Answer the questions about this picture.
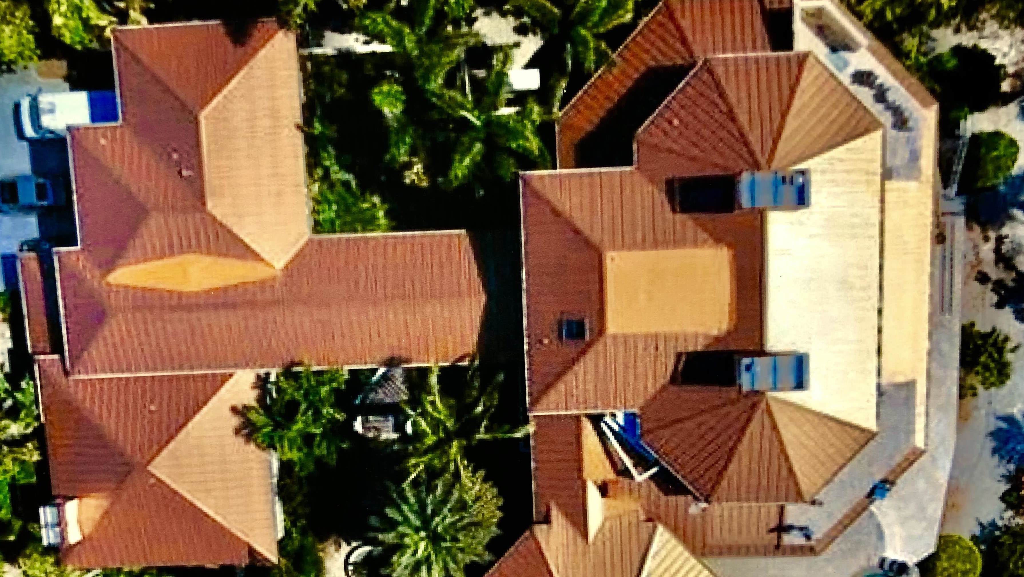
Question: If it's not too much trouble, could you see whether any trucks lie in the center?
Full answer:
No, there's no truck to be seen in the center.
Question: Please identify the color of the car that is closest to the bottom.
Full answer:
The color of the car that is closest to the bottom is blue.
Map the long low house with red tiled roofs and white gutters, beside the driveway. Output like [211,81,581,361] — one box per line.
[17,18,516,377]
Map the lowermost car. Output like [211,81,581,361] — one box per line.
[0,174,53,208]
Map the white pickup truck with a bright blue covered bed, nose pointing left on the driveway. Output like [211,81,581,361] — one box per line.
[17,91,118,142]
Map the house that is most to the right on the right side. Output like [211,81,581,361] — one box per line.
[482,0,938,577]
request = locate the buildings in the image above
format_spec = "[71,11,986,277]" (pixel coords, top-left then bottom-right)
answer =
[17,18,516,377]
[482,0,938,577]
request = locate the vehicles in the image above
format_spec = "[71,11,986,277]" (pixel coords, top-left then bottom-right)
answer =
[0,174,53,208]
[17,91,118,142]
